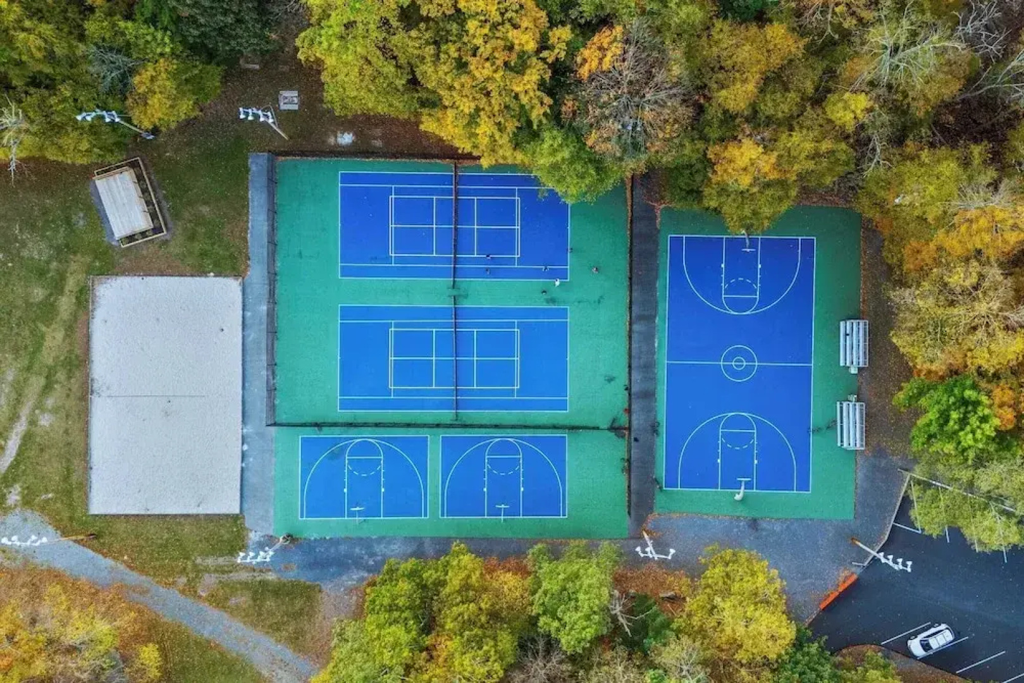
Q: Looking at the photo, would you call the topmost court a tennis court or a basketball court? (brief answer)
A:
tennis court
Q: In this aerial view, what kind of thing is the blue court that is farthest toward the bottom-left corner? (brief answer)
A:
basketball court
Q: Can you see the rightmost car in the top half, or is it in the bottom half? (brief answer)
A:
bottom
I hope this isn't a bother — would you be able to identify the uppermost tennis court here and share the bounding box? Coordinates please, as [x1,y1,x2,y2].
[276,159,628,292]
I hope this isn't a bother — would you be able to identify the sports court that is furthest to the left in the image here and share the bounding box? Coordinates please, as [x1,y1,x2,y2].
[88,276,243,515]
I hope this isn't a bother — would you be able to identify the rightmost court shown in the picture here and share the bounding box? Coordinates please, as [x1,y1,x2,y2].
[655,207,860,520]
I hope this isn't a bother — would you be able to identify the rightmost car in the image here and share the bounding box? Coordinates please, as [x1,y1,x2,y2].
[905,622,955,658]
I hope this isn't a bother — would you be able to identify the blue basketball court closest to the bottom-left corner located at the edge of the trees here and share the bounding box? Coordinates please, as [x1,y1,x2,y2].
[274,423,434,538]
